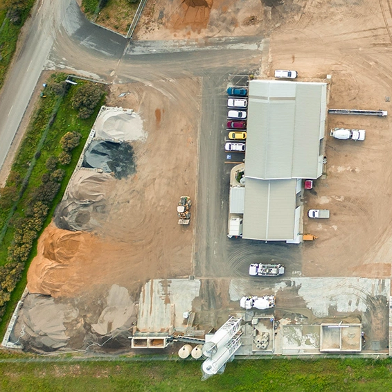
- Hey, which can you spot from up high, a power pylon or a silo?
silo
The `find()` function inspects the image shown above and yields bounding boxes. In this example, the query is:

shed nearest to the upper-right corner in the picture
[244,79,326,180]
